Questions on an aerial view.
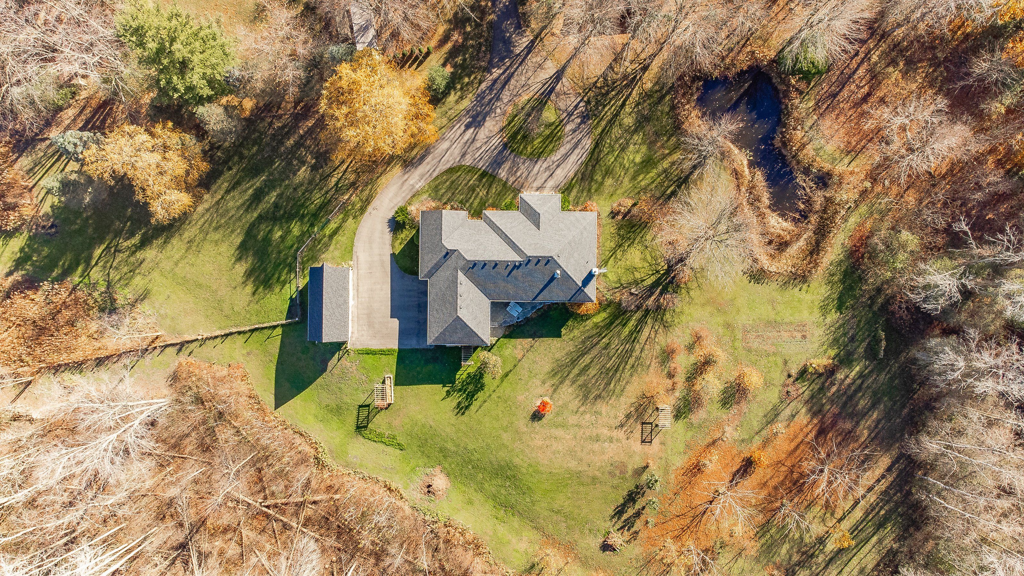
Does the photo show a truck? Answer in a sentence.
No, the scene contains no truck.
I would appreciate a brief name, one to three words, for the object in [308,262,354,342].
shed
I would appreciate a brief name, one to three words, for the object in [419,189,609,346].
house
